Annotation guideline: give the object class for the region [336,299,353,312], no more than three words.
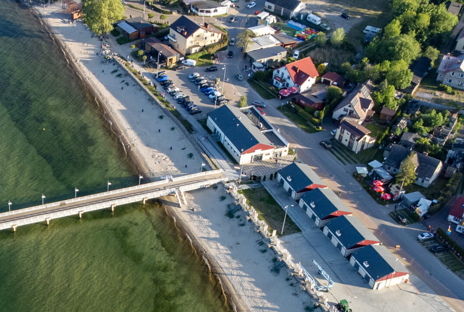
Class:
vehicle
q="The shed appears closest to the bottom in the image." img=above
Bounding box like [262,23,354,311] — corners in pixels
[349,245,410,288]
